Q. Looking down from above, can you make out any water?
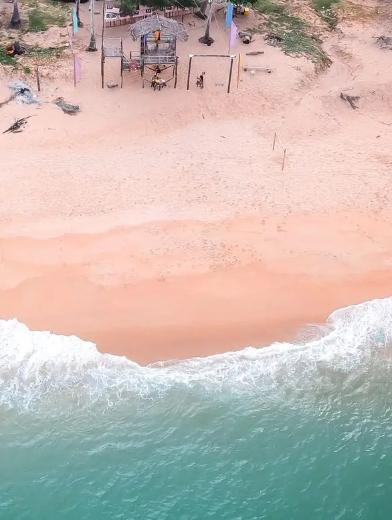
Yes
